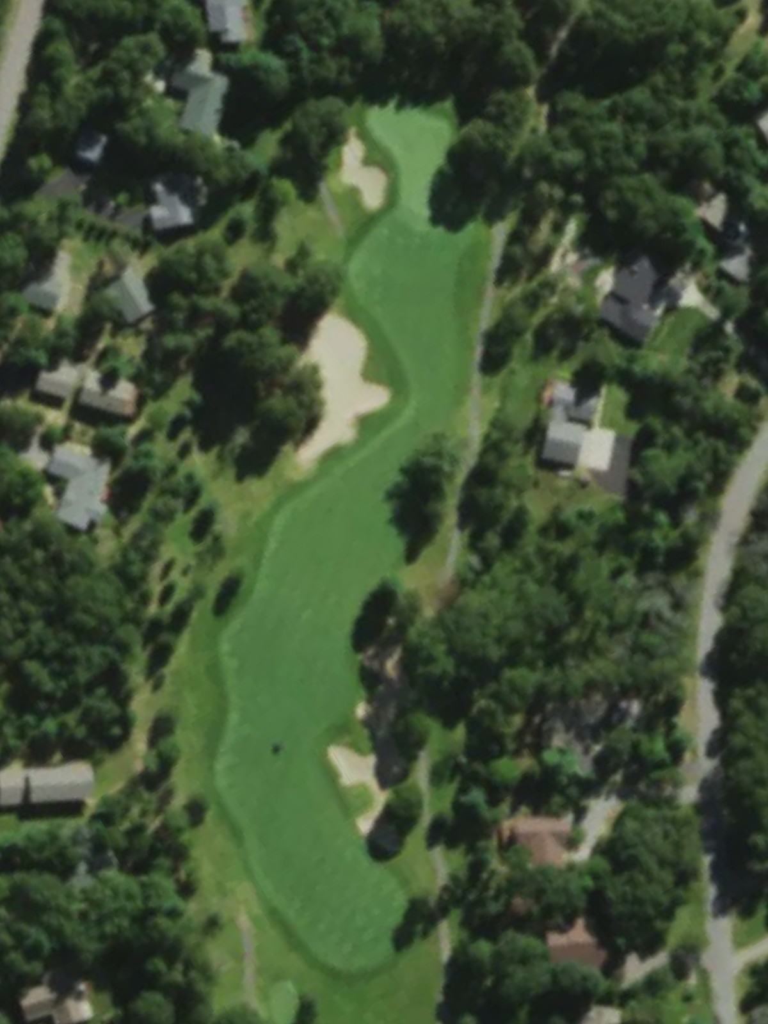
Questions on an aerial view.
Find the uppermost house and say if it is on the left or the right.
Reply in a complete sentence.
You can find the uppermost house on the left side of the picture.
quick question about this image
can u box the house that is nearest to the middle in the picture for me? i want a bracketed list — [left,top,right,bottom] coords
[543,383,605,463]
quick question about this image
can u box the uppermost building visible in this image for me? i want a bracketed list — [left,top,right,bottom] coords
[207,0,248,43]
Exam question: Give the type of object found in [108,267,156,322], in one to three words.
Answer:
house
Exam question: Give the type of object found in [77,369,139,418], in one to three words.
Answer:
house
